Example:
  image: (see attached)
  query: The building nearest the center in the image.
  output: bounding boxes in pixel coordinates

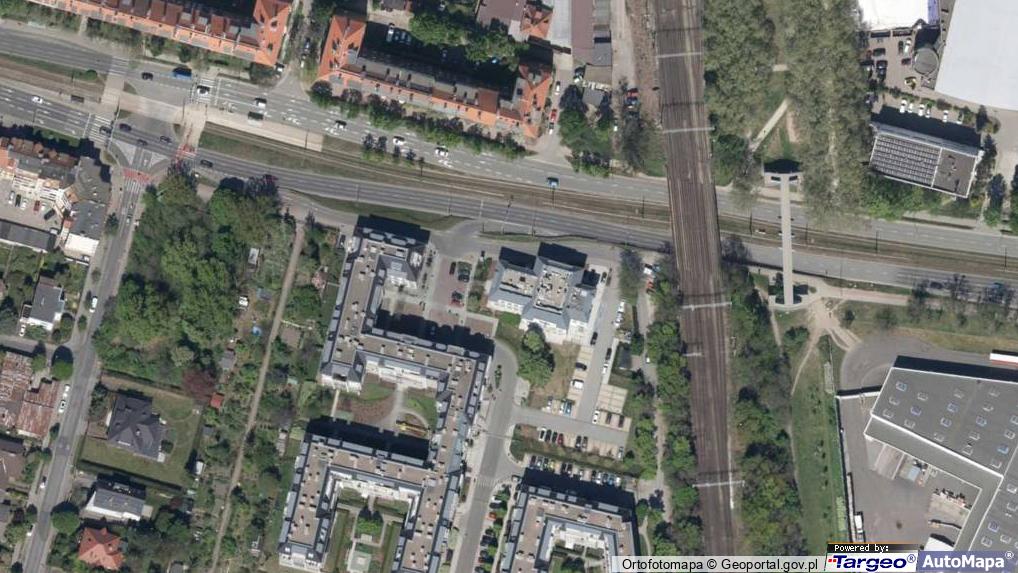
[489,258,597,333]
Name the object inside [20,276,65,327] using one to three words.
house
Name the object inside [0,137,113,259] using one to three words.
building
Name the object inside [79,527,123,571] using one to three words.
house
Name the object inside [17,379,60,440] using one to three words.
shed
